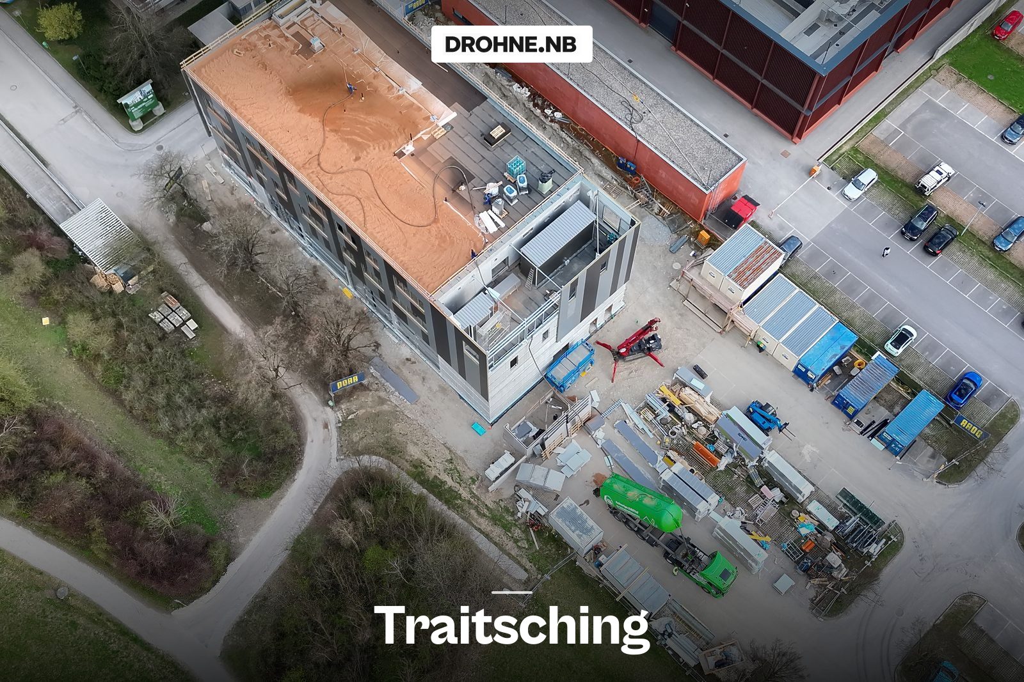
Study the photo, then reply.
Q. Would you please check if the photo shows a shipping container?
Yes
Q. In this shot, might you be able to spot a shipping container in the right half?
Yes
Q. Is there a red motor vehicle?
Yes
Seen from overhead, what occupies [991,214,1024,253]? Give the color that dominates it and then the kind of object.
blue car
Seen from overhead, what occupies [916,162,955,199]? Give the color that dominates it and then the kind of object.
white car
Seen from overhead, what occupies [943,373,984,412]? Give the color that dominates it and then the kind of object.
blue car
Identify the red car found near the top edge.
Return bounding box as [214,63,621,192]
[991,9,1024,39]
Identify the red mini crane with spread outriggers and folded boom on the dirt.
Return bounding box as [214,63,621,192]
[595,314,666,384]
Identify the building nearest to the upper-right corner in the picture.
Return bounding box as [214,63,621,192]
[608,0,958,142]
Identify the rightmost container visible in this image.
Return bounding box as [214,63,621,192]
[876,387,944,455]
